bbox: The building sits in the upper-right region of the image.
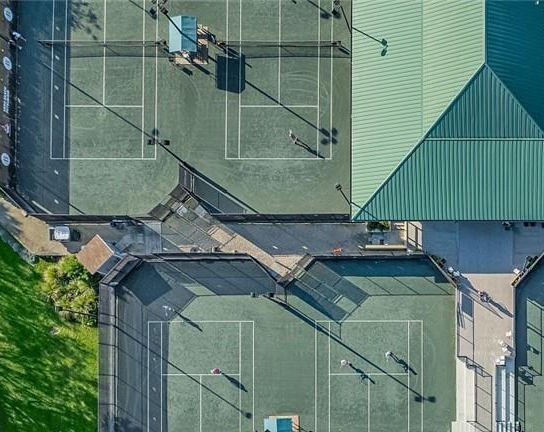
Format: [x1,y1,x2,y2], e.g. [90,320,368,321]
[350,0,544,223]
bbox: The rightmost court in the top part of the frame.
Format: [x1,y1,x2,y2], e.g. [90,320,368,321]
[190,0,350,216]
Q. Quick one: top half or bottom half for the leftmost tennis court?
top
